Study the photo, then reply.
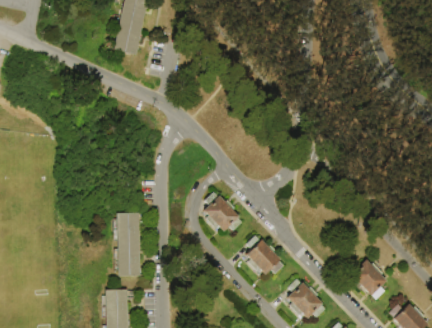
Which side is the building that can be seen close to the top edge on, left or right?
left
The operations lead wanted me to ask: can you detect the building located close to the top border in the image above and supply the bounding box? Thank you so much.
[115,0,146,54]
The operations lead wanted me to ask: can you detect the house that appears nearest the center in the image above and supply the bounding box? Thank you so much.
[204,192,240,230]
